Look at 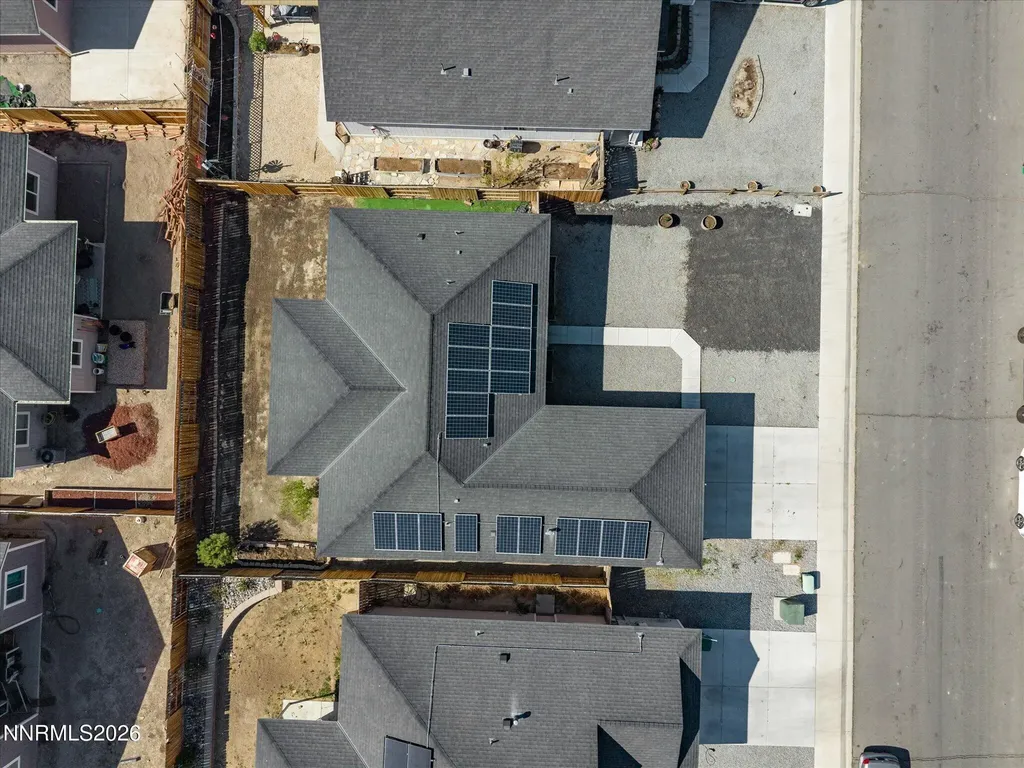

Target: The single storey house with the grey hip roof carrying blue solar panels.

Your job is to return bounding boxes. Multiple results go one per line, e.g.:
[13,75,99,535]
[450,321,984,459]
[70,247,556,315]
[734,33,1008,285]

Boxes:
[266,206,707,569]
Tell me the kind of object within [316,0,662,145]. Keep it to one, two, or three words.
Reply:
house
